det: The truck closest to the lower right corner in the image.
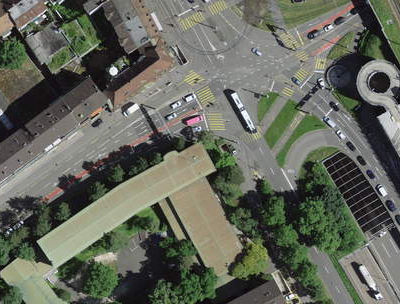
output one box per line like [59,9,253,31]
[359,266,382,299]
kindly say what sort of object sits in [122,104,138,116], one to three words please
vehicle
